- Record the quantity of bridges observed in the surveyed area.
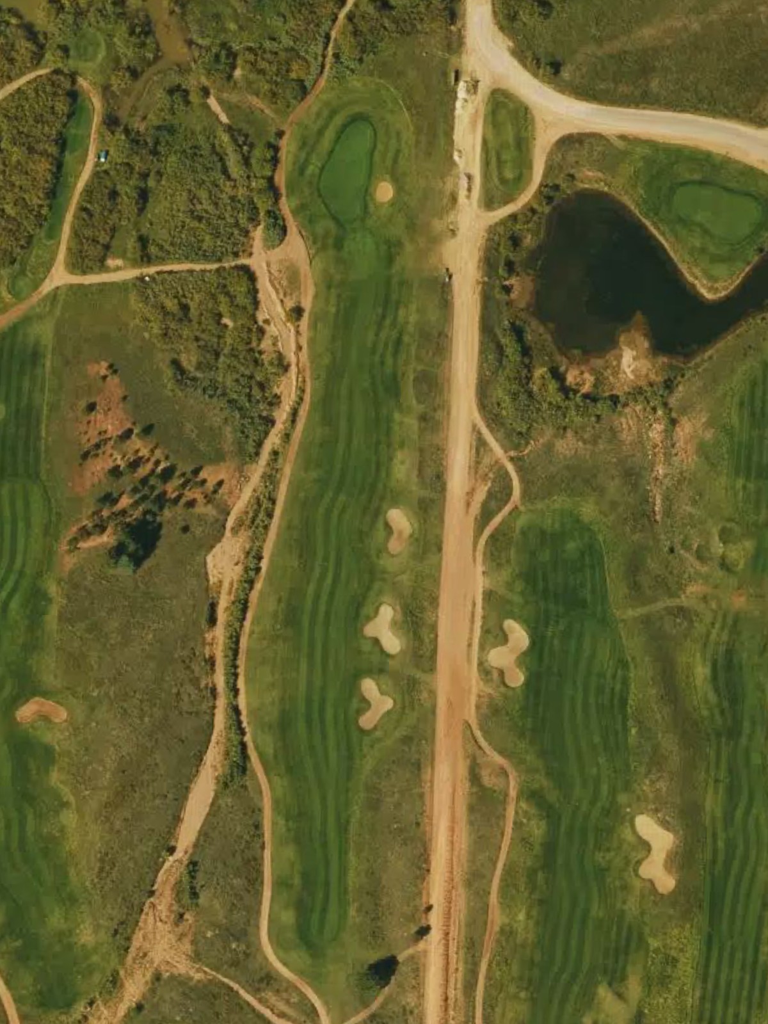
none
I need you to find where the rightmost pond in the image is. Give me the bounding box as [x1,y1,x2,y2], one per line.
[532,186,768,365]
